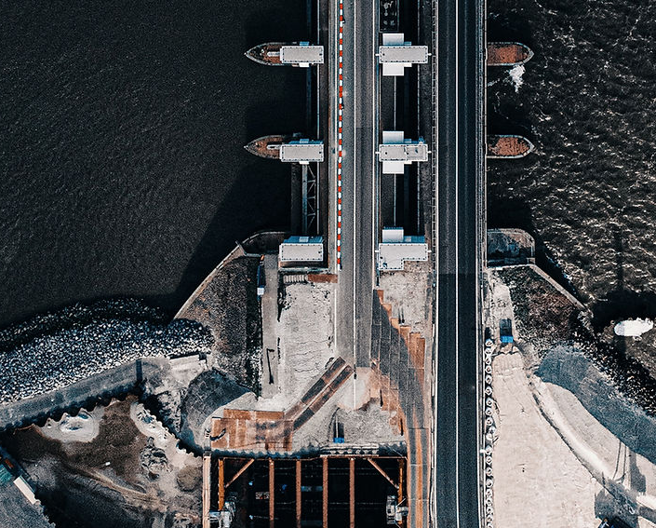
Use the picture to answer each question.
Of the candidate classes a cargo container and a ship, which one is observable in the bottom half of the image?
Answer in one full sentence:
It is a cargo container that can be seen in the bottom half of the image.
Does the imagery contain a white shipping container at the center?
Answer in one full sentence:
No, the scene shows no white shipping container at the center.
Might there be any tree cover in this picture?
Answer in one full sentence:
No, tree cover can't be seen anywhere here.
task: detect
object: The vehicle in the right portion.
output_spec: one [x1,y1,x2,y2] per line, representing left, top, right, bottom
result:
[500,319,512,344]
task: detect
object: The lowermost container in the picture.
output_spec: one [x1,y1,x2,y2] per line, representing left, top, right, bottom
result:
[10,472,42,505]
